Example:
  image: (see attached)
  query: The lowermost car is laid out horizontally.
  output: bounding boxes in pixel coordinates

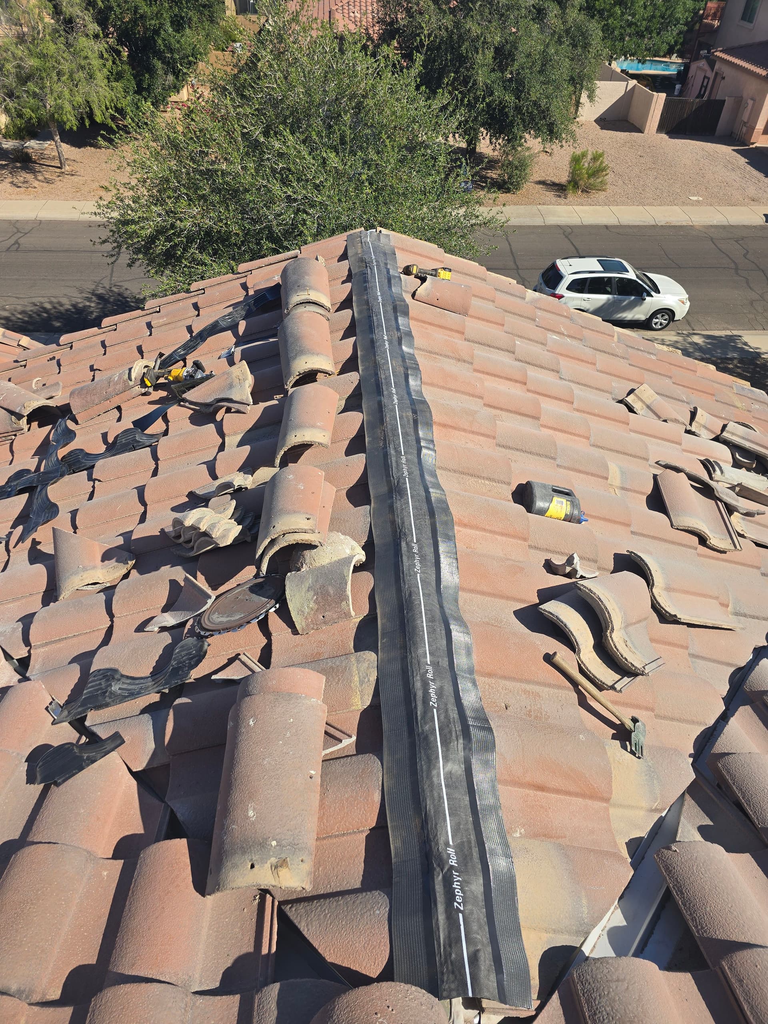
[528,252,688,328]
